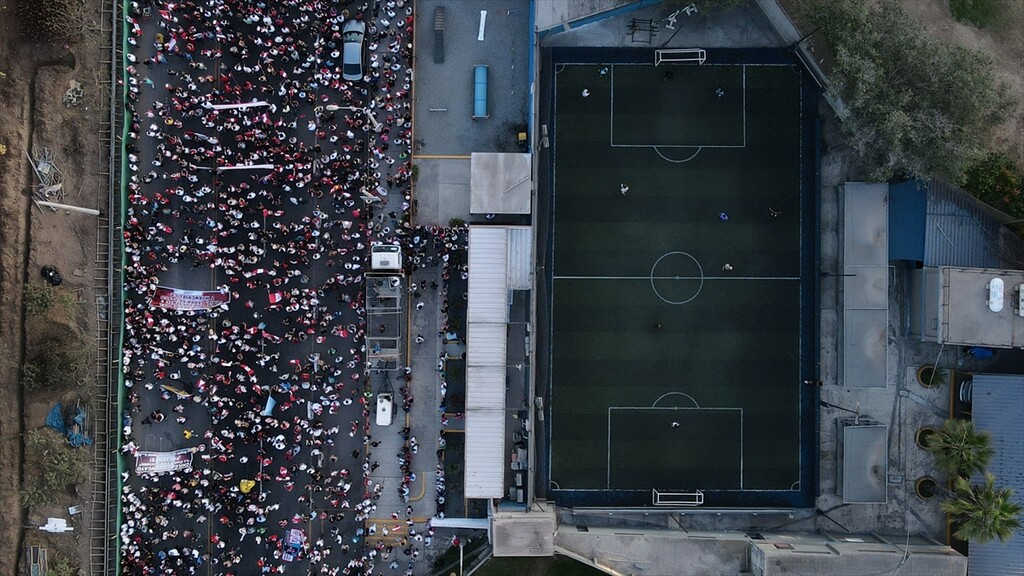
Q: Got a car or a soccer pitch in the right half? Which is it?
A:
soccer pitch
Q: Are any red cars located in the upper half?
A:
No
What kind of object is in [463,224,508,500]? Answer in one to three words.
building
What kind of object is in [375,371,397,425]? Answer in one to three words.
trailer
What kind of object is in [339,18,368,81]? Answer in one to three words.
car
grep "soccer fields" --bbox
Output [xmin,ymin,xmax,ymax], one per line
[544,48,823,508]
